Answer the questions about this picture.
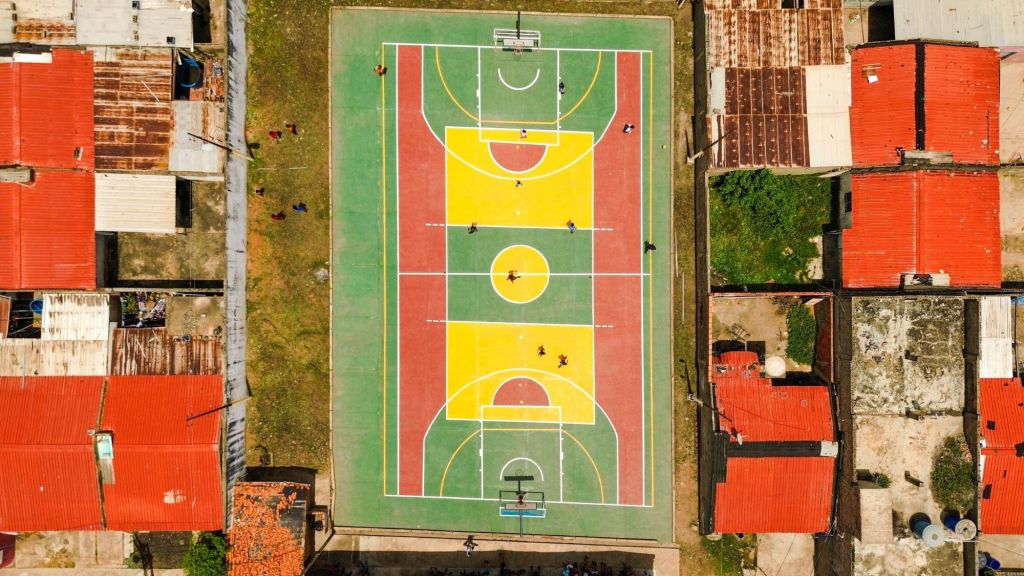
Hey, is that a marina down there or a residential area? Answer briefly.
residential area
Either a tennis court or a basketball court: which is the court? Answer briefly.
basketball court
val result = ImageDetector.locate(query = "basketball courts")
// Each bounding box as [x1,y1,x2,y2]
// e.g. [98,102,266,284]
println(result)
[328,7,676,548]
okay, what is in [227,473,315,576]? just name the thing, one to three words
shed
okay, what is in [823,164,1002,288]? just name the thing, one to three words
house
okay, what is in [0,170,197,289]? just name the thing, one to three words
house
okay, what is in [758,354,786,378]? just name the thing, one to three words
water tank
